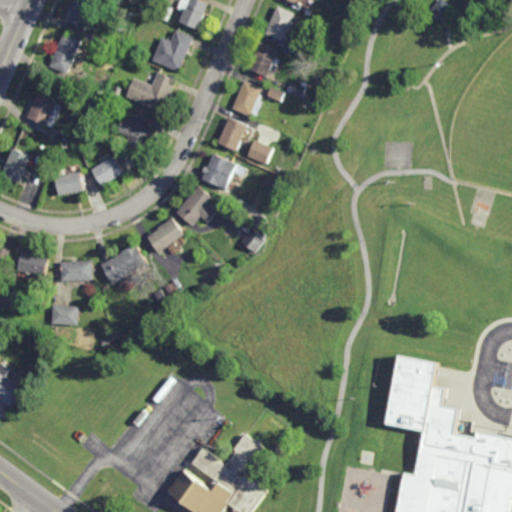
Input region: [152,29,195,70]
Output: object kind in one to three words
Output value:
house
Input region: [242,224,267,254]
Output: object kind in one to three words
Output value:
house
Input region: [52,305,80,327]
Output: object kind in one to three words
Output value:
building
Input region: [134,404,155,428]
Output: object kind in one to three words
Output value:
truck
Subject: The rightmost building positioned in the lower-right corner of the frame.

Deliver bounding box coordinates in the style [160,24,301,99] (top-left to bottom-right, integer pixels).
[384,354,512,512]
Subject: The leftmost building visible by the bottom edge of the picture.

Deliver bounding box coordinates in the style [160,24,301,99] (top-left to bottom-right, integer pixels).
[168,433,270,512]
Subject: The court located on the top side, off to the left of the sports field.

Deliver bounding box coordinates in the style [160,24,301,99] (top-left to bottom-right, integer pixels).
[384,142,412,169]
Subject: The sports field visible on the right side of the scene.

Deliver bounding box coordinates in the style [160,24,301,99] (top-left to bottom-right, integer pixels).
[448,33,512,192]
